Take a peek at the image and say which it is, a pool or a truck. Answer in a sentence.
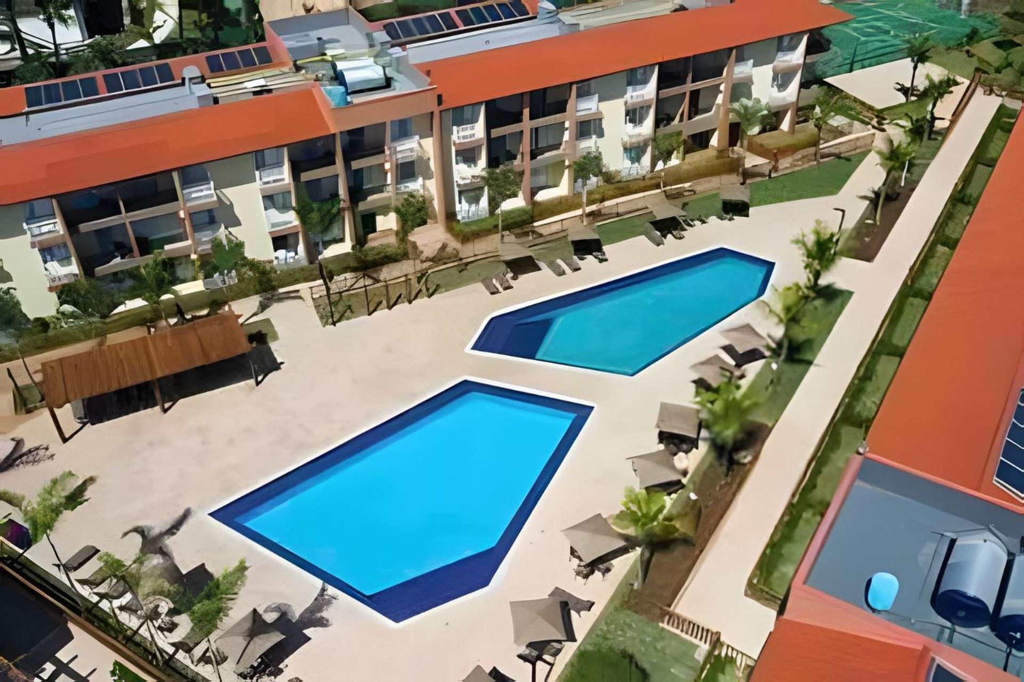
Visible in the photo is a pool.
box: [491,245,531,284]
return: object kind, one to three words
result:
umbrella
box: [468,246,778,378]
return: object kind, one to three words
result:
swimming pool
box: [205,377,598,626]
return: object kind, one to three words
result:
swimming pool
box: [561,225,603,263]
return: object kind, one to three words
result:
umbrella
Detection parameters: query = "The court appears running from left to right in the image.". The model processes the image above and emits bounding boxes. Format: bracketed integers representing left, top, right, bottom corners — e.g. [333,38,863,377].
[809,0,1010,84]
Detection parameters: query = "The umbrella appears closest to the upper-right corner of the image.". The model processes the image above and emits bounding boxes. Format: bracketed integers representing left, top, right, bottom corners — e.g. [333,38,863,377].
[710,184,752,221]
